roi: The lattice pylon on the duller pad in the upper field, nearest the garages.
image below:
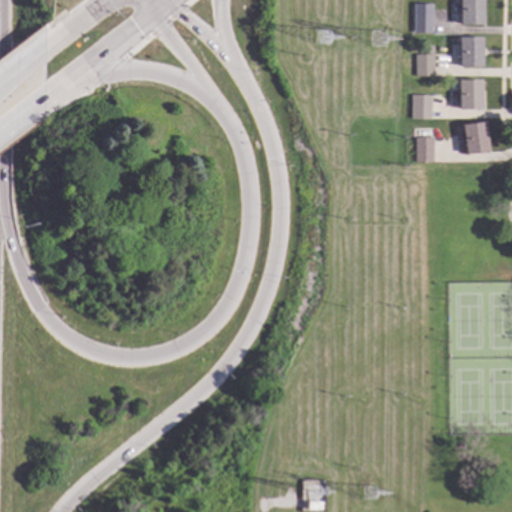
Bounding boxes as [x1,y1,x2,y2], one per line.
[372,30,406,46]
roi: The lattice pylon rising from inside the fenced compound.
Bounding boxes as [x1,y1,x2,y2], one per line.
[308,486,342,503]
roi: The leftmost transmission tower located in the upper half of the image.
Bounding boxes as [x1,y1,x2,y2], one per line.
[317,29,351,46]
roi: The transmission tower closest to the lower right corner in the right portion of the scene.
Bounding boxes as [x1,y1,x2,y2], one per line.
[363,484,398,501]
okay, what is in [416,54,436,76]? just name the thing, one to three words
building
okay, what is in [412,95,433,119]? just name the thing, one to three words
building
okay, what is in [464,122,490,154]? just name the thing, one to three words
house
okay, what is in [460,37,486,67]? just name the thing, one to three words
house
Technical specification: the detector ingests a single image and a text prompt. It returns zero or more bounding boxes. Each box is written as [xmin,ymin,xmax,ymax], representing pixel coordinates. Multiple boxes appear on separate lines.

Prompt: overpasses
[0,24,48,154]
